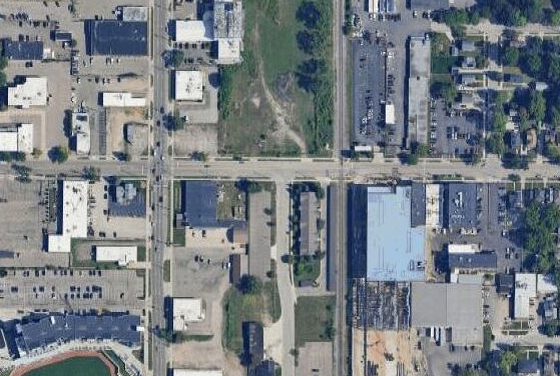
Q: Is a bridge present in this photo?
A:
No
